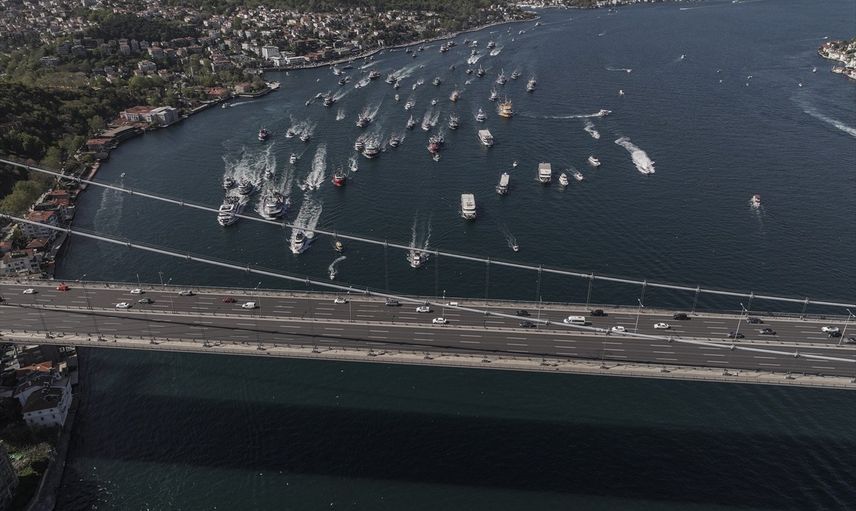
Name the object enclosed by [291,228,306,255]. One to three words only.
boat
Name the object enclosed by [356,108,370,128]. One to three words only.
boat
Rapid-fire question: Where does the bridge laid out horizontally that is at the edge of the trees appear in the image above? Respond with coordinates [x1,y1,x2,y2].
[0,159,856,390]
